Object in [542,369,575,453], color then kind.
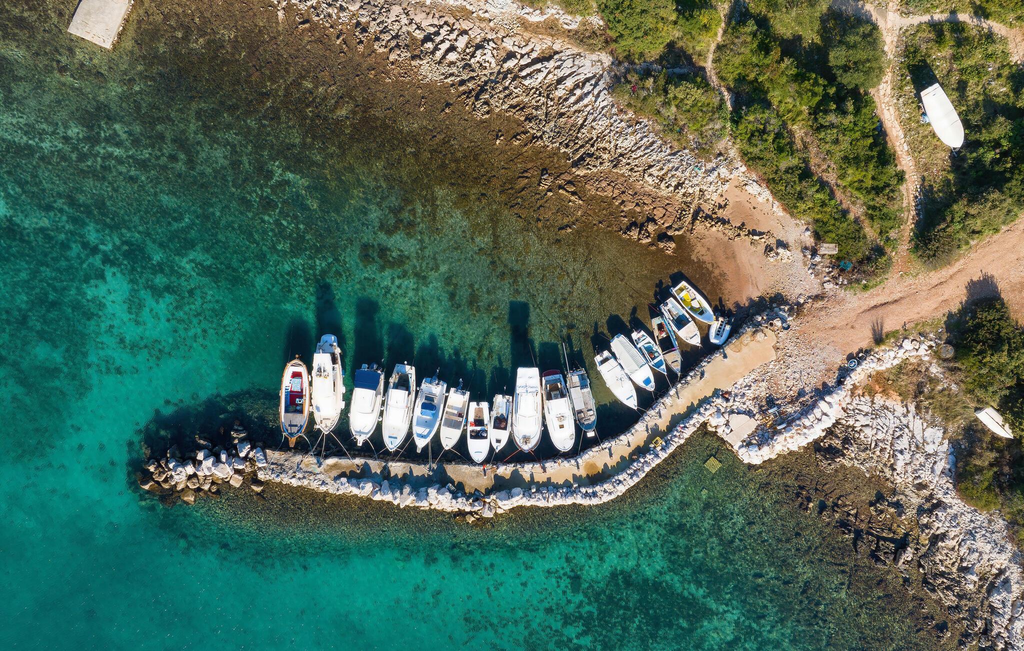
white boat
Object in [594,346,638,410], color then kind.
white boat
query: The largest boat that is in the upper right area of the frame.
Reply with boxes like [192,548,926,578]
[914,83,968,156]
